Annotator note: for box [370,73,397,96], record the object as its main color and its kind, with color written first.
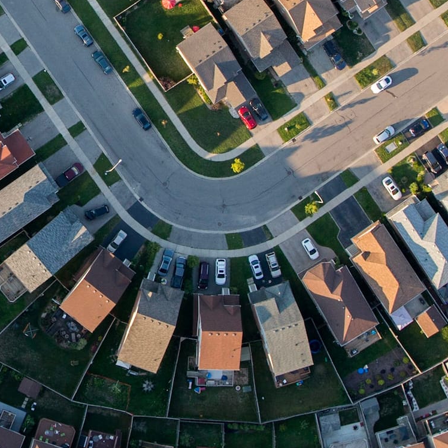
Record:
white car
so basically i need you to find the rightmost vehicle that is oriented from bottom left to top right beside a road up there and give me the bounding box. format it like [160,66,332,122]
[406,118,434,140]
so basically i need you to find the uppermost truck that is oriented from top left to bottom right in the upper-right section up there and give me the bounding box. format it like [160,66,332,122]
[322,39,347,70]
